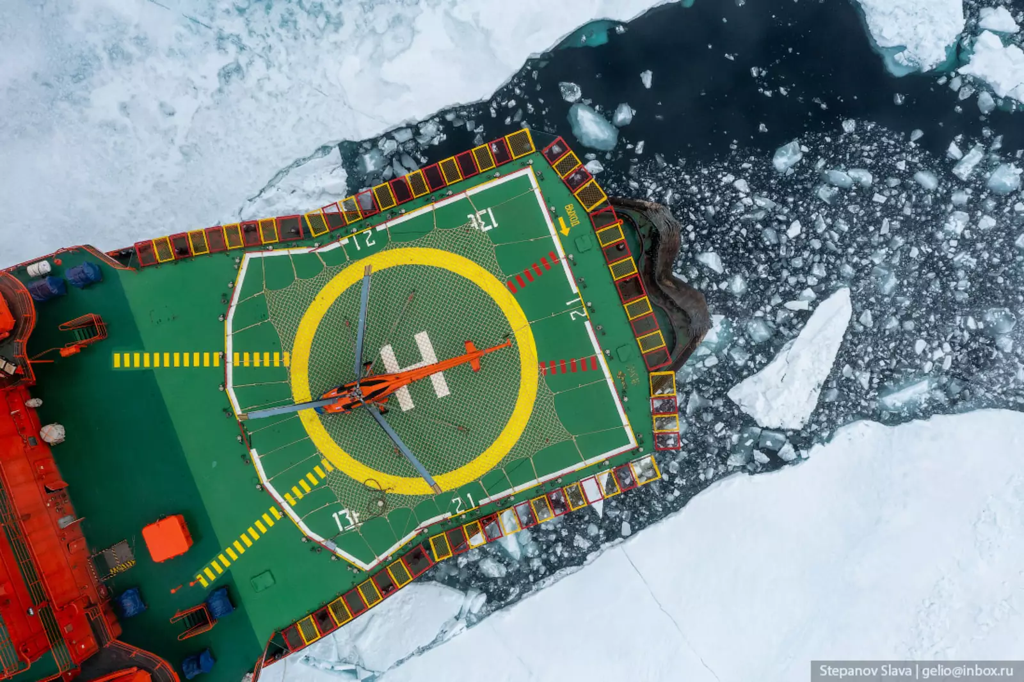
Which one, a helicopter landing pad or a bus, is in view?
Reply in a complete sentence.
There is a helicopter landing pad in the scene.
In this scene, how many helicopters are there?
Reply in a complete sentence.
I count just 1 helicopter.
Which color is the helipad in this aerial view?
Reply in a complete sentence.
In this view, the helipad is green.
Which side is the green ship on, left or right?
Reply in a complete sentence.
You can find the green ship on the left side of the picture.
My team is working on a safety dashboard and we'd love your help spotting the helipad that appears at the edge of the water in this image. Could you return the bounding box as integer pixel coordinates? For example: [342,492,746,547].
[114,128,680,653]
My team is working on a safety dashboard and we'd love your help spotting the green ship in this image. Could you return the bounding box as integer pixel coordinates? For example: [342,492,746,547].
[0,150,714,682]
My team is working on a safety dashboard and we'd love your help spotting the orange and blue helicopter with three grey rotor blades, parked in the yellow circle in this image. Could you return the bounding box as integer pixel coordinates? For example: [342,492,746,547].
[239,266,526,493]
